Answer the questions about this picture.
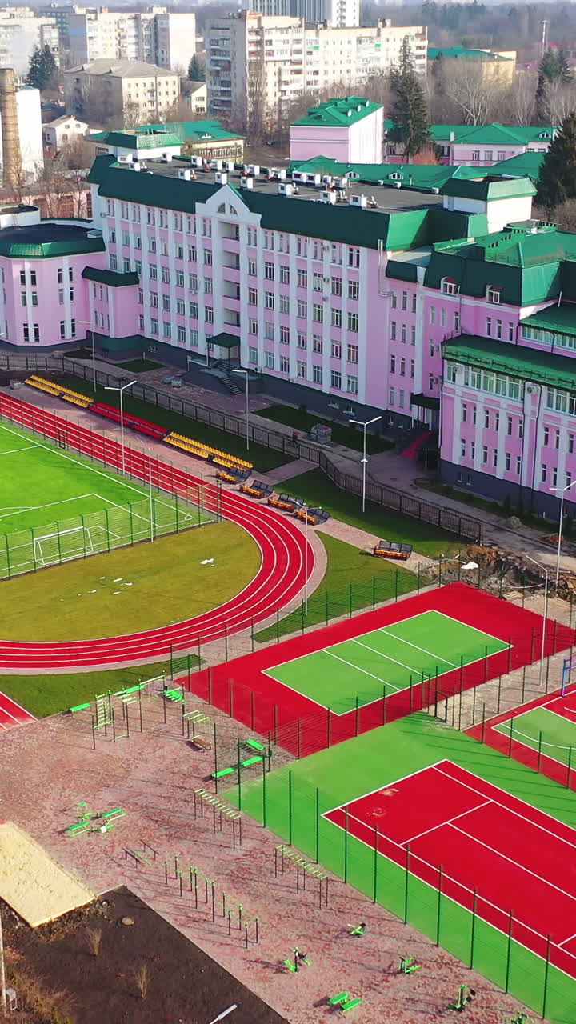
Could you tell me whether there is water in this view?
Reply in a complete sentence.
No, the picture contains no water.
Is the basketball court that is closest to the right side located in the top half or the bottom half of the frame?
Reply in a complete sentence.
Seen from above, the basketball court that is closest to the right side lies in the bottom half of the view.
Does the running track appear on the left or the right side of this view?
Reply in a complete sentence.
You can find the running track on the left side of the picture.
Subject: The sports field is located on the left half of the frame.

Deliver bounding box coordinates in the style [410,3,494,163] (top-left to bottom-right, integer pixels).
[0,423,215,580]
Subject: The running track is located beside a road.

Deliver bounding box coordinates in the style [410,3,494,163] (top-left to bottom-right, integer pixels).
[0,396,327,732]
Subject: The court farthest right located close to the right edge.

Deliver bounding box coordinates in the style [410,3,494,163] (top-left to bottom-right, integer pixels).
[463,682,576,790]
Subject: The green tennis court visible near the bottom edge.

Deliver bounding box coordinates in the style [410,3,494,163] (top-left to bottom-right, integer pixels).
[217,710,576,1024]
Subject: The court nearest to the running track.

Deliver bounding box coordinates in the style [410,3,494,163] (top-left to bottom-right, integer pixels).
[171,580,576,759]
